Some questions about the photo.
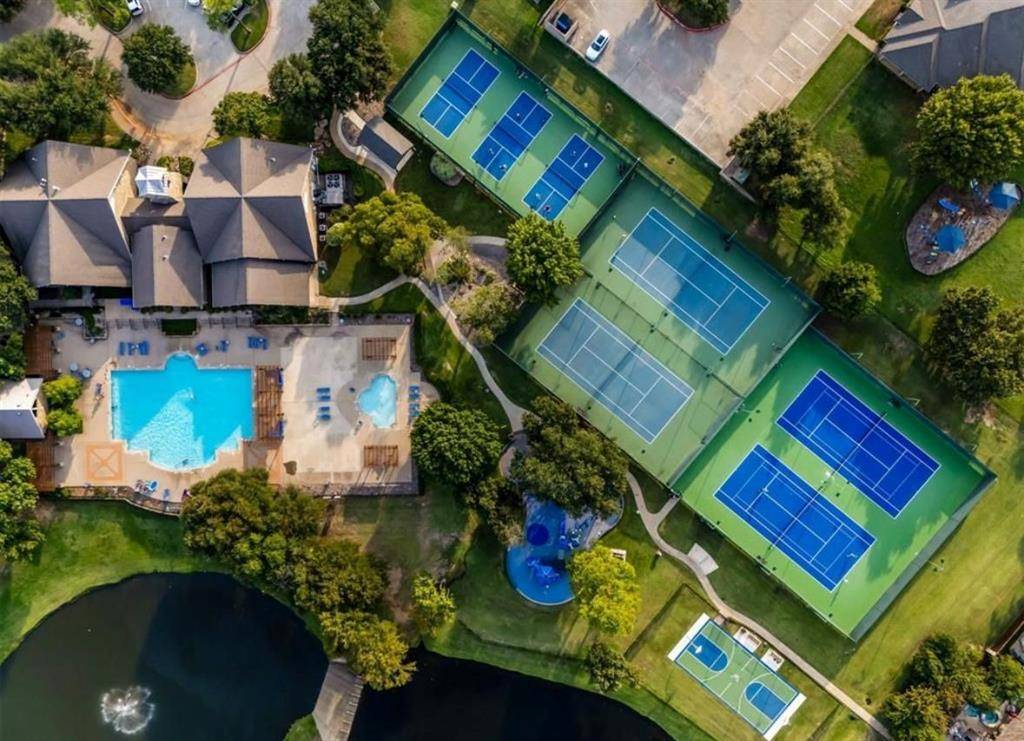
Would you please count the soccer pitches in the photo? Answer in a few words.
0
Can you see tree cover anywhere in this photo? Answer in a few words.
Yes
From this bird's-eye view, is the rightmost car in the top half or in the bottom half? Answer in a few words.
top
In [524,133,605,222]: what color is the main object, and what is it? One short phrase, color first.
blue sports court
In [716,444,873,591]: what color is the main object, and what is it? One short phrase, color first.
blue tennis court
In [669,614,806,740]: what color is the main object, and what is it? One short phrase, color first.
green basketball court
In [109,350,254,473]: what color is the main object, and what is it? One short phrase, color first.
blue swimming pool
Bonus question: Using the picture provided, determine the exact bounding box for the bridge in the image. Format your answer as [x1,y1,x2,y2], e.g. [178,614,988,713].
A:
[307,655,364,741]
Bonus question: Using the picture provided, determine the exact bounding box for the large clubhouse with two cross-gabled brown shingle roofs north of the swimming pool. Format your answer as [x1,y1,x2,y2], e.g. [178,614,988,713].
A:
[0,136,320,308]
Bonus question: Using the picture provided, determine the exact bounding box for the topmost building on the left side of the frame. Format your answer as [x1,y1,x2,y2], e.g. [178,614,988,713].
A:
[360,117,416,173]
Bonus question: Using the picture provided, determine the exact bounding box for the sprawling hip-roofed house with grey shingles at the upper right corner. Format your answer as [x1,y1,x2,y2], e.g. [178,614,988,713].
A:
[880,0,1024,96]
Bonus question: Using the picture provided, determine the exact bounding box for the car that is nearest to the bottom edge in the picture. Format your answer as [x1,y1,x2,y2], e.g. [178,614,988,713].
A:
[588,26,611,60]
